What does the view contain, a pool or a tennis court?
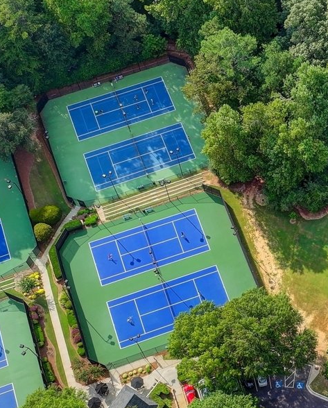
tennis court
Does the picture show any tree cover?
Yes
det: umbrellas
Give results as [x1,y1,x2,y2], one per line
[94,383,109,397]
[129,375,144,391]
[88,397,102,408]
